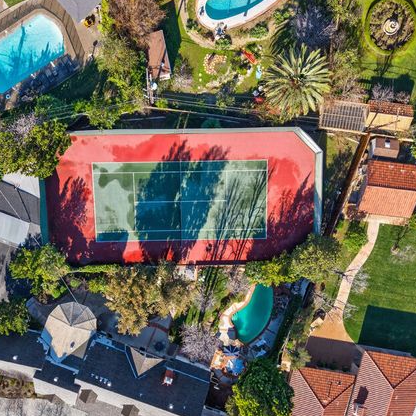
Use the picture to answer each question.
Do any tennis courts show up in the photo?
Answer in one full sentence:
Yes, there is a tennis court in the image.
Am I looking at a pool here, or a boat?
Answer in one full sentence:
There is a pool in the scene.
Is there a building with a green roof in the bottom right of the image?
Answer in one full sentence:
No, there is no building with a green roof in the bottom right of the image.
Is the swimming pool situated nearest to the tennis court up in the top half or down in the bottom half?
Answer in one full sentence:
The swimming pool situated nearest to the tennis court is in the bottom half of the image.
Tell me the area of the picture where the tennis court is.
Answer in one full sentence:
You can find the tennis court in the center area of the picture.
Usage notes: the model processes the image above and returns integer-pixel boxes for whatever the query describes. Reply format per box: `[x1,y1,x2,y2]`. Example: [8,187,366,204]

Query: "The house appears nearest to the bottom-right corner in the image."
[347,345,416,416]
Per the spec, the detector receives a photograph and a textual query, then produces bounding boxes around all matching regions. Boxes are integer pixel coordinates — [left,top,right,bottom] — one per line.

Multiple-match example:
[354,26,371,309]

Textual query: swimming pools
[200,0,276,24]
[0,6,73,102]
[226,275,279,349]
